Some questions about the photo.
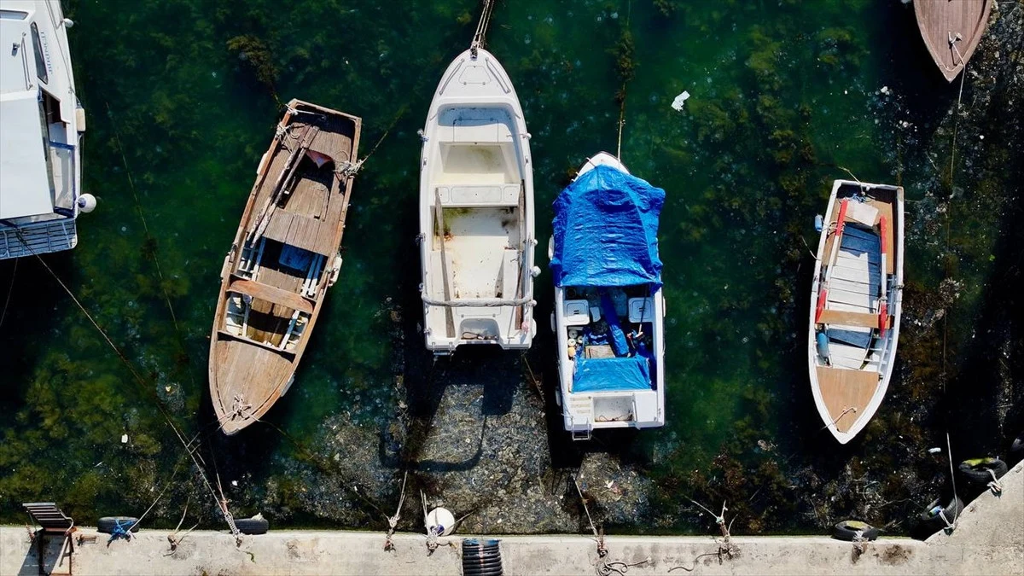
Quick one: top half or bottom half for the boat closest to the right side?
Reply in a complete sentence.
The top half of the photo is where the boat closest to the right side is.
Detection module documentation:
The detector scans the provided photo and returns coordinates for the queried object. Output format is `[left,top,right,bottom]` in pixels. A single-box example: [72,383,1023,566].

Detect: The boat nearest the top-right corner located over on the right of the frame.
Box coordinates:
[912,0,992,85]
